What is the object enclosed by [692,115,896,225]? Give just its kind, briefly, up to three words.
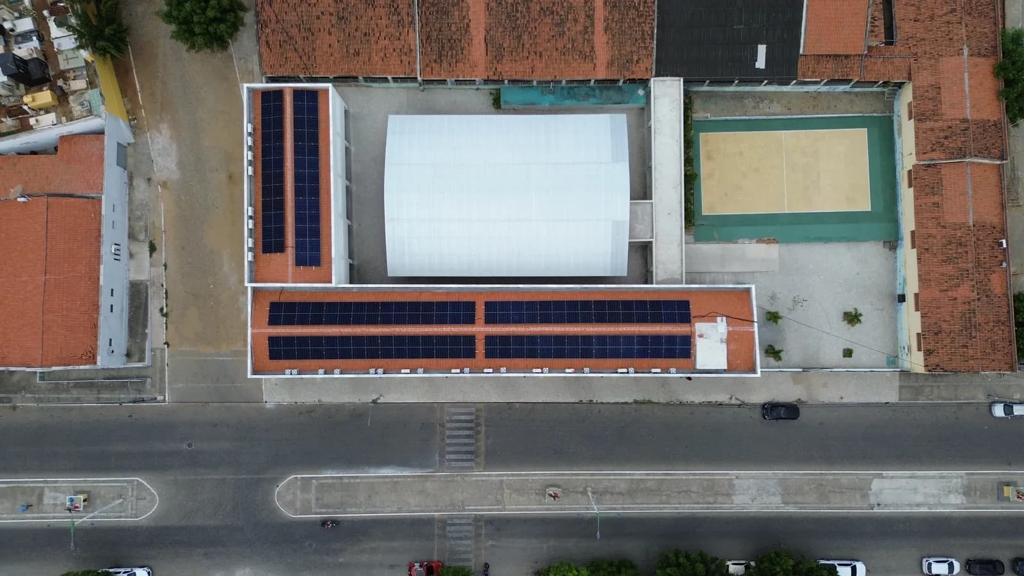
sports court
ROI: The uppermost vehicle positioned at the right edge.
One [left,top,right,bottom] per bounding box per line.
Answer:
[992,401,1024,422]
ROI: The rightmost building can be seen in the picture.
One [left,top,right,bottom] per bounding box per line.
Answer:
[899,0,1024,372]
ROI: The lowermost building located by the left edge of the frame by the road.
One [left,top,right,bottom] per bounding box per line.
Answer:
[0,113,133,368]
